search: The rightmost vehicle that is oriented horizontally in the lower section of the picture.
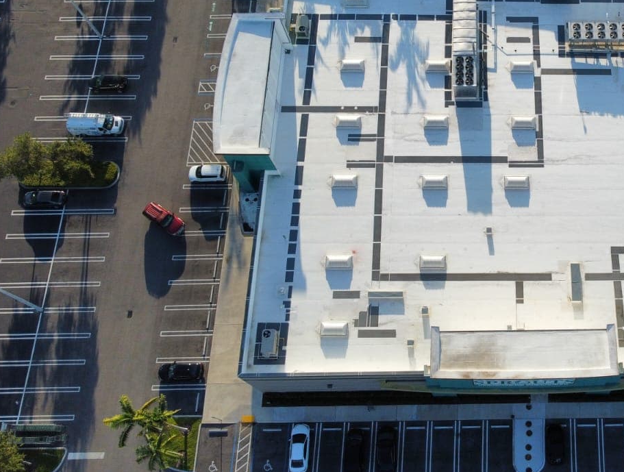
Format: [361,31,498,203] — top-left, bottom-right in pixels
[153,360,206,384]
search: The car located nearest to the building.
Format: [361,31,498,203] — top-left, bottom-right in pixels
[186,162,228,182]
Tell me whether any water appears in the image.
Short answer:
No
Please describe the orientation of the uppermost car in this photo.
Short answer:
from side to side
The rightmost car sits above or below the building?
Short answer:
below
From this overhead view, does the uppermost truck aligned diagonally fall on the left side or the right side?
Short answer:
left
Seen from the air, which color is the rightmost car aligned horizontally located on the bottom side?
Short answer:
black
